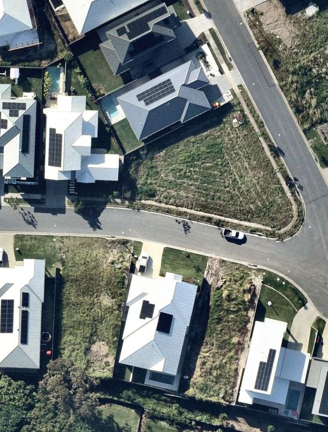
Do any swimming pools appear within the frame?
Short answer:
Yes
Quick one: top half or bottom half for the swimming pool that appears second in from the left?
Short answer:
top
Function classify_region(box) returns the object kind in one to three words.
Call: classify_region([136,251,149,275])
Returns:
vehicle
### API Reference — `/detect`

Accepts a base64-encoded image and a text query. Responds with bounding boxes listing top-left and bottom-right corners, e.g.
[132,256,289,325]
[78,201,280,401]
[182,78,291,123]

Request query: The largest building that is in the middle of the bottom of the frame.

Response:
[119,272,197,375]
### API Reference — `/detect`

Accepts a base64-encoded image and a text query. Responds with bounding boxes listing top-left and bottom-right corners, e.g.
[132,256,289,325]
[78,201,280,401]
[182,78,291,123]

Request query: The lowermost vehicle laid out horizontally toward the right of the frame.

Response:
[220,228,247,241]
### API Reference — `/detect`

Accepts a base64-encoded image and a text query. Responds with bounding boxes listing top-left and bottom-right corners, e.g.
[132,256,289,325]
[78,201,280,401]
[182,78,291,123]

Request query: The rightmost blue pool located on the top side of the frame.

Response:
[100,95,120,121]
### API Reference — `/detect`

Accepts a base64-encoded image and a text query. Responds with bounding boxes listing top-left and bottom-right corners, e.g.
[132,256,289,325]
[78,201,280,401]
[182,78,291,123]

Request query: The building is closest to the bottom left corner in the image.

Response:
[0,259,46,369]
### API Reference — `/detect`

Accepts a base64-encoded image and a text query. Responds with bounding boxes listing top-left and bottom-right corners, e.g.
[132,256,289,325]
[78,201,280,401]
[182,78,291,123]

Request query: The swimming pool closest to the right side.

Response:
[284,388,303,412]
